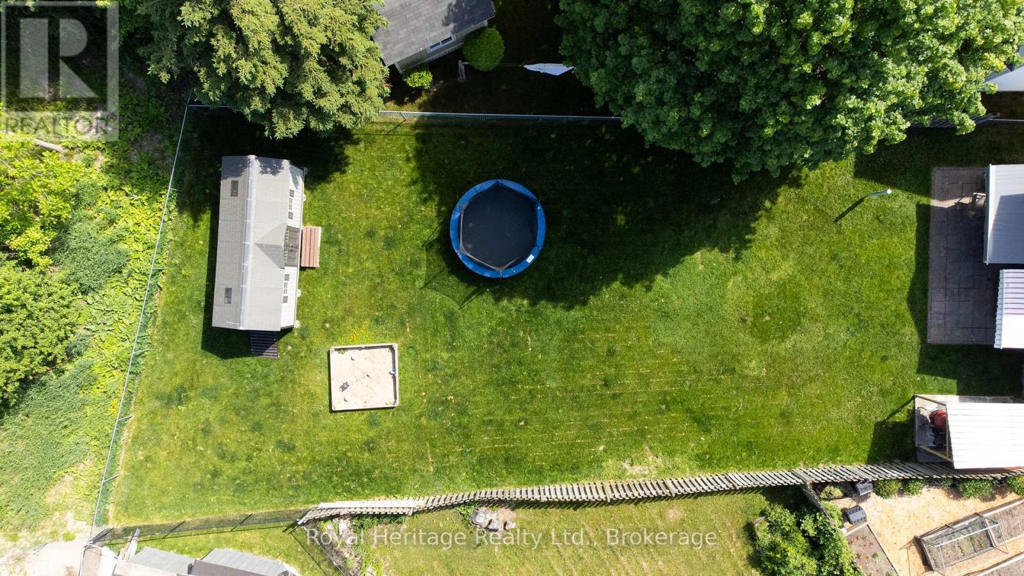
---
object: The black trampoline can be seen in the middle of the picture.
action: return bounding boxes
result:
[451,179,546,277]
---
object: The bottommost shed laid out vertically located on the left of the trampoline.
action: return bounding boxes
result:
[212,154,303,332]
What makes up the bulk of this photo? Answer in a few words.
grass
